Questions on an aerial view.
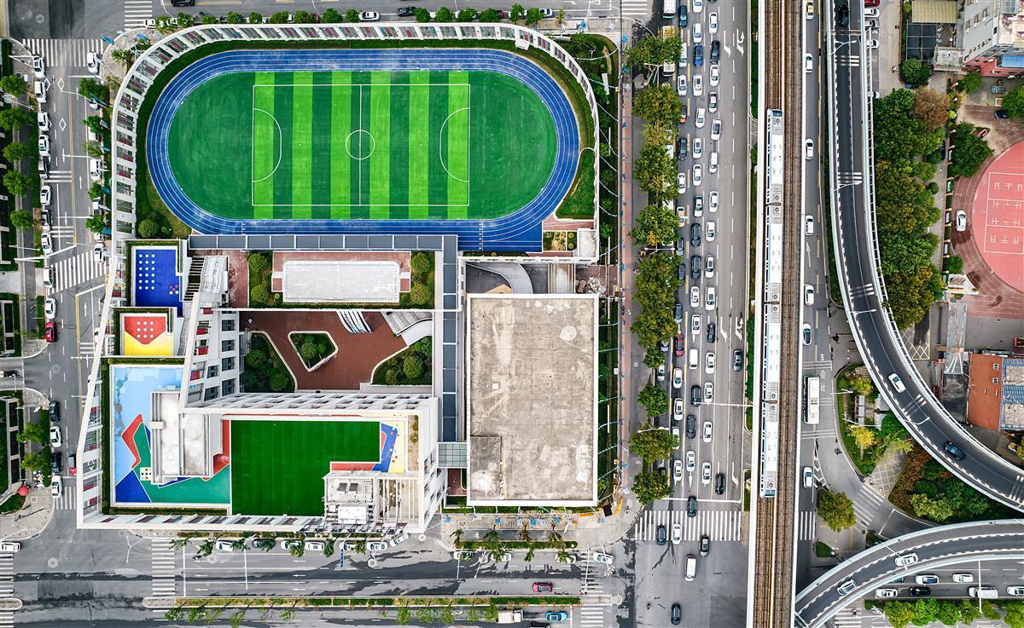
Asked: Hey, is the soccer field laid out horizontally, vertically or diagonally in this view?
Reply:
horizontally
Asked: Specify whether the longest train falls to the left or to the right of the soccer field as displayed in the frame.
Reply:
on its right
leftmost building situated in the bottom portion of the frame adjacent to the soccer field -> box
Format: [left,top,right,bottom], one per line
[76,240,438,532]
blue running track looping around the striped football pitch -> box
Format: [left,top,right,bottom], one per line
[144,46,581,252]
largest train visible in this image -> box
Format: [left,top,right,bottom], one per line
[758,110,780,496]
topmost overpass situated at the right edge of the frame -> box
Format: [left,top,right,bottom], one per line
[824,0,1024,512]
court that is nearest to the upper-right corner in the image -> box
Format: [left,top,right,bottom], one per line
[973,141,1024,295]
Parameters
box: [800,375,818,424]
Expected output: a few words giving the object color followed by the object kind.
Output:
white vehicle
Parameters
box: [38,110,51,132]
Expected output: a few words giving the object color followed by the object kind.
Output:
white vehicle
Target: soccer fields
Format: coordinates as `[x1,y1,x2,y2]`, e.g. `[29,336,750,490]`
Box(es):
[168,70,557,219]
